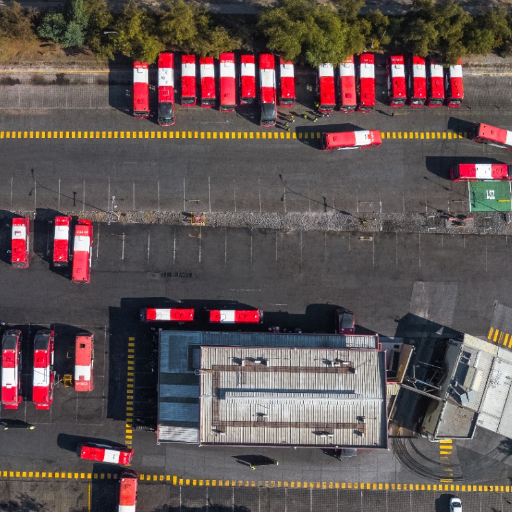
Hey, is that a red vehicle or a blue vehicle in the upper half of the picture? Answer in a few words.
red vehicle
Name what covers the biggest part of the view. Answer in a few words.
paved ground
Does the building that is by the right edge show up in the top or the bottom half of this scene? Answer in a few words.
bottom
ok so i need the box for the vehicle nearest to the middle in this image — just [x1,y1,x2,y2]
[209,308,265,325]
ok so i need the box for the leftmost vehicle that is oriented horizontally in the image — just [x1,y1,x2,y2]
[78,442,133,463]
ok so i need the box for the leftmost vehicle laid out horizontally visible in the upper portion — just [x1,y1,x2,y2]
[319,131,381,150]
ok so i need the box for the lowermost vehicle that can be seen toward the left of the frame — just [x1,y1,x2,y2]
[121,470,139,512]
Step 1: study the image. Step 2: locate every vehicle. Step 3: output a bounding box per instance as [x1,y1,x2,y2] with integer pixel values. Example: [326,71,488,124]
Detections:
[72,224,92,287]
[443,61,465,107]
[426,60,445,108]
[1,331,22,409]
[387,55,408,107]
[336,52,358,114]
[240,54,257,107]
[11,217,30,269]
[76,331,94,391]
[258,53,279,127]
[121,470,139,512]
[180,54,197,107]
[53,216,71,270]
[209,308,265,325]
[453,164,512,181]
[78,442,133,463]
[218,53,238,114]
[133,59,152,119]
[146,308,201,323]
[33,331,53,409]
[468,121,512,150]
[356,53,377,114]
[449,496,463,512]
[316,57,336,114]
[319,131,381,150]
[157,52,176,125]
[200,56,217,108]
[408,56,429,107]
[278,56,296,107]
